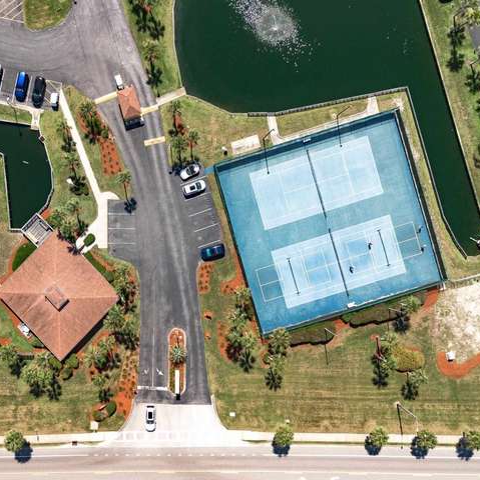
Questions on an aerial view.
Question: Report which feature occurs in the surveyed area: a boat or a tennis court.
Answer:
tennis court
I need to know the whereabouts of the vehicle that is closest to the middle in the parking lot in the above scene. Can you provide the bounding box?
[200,245,226,260]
